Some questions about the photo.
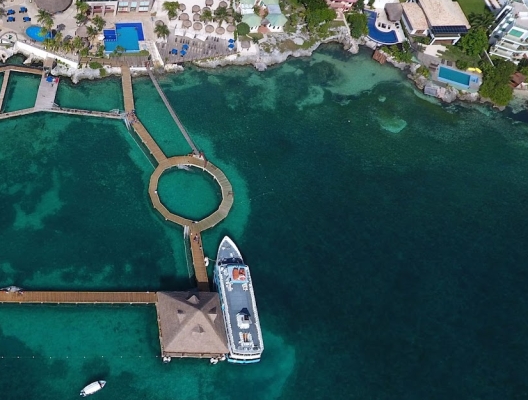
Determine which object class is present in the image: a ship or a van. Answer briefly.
ship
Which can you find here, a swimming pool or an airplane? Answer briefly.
swimming pool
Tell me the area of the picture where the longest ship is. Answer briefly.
bottom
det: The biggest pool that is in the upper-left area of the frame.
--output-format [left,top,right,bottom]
[102,22,146,53]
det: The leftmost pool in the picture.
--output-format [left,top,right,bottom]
[24,24,55,42]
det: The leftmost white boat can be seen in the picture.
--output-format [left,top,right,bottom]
[79,380,106,398]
